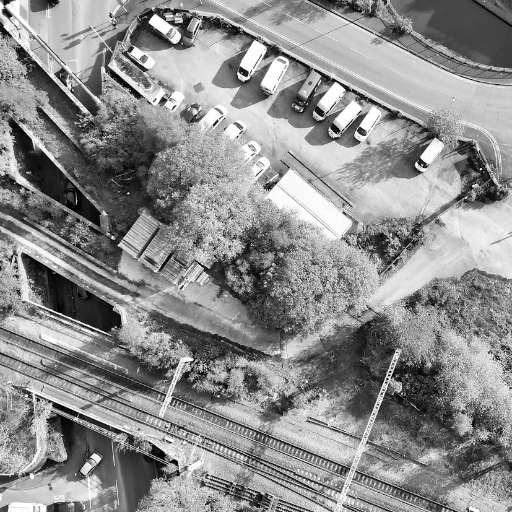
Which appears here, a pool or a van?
van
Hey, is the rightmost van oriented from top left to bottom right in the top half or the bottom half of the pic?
top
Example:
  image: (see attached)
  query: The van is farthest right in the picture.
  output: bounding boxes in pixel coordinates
[415,137,444,174]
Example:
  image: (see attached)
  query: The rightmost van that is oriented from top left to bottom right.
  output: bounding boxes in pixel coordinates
[147,9,182,47]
